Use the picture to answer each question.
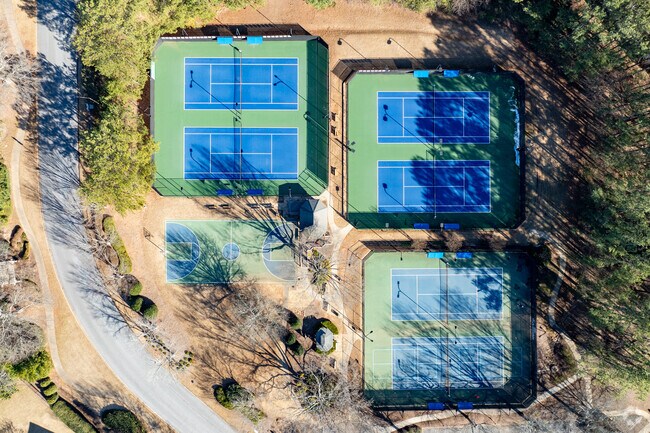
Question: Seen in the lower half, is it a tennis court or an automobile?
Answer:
tennis court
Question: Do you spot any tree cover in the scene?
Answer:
Yes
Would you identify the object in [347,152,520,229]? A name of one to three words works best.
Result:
tennis court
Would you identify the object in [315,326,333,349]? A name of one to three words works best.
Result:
gazebo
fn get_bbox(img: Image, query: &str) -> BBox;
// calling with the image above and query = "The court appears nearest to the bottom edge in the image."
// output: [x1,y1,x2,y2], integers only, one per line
[365,329,531,403]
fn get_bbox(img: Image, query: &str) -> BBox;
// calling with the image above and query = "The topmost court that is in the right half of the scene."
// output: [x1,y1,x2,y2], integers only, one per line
[347,72,520,152]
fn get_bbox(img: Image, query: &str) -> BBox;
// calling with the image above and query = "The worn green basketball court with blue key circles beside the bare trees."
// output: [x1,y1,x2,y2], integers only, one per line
[166,220,296,283]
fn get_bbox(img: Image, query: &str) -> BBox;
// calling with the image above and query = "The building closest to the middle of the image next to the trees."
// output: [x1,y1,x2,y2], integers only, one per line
[300,200,327,239]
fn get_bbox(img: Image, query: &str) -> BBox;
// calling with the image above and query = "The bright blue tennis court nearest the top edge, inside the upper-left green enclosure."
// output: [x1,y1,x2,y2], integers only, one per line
[154,41,328,118]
